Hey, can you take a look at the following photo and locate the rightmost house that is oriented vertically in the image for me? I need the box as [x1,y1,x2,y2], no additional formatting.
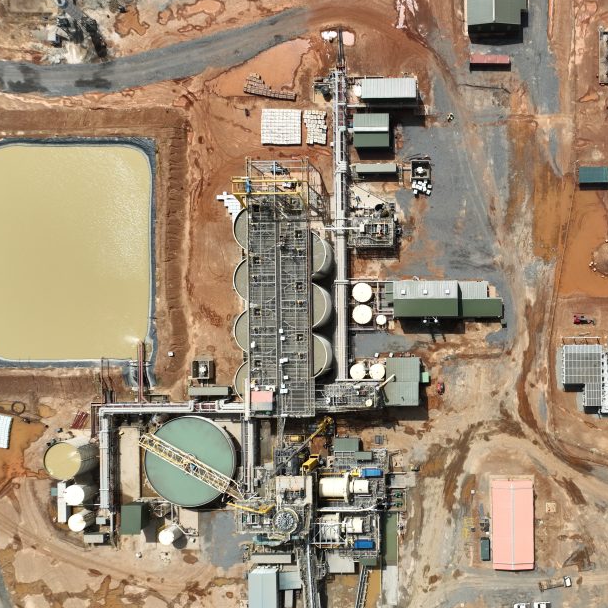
[491,479,534,571]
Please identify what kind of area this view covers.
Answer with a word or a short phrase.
industrial area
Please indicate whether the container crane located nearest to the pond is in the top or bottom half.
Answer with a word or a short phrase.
top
